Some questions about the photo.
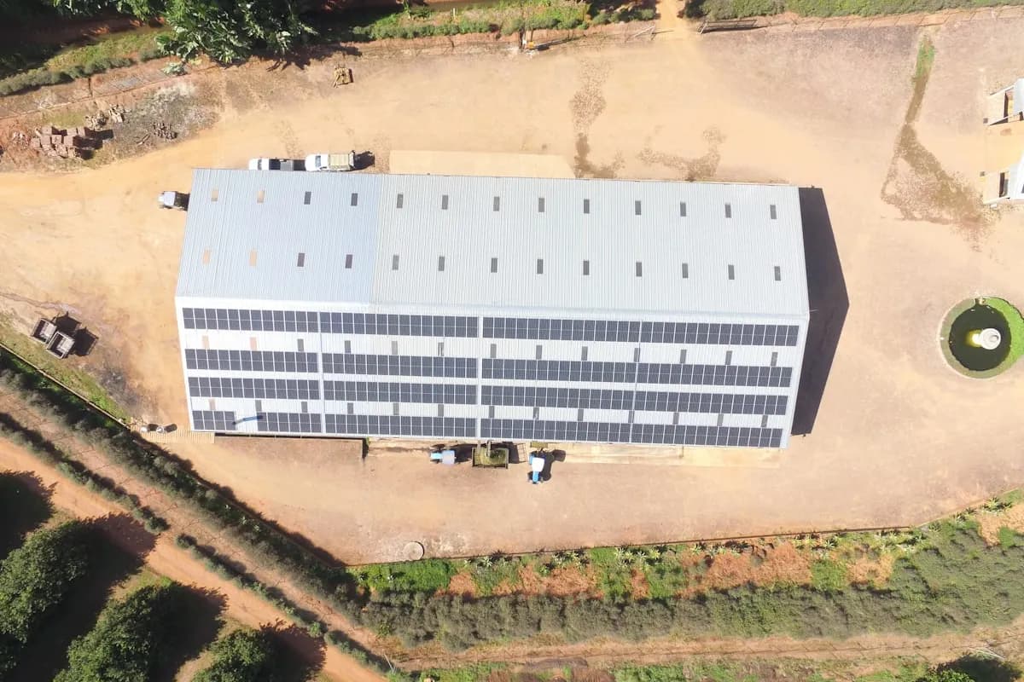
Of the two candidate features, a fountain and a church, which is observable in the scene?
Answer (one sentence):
I can see a fountain in this picture.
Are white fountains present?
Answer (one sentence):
Yes, a white fountain appears in the view.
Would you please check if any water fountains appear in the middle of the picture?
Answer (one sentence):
No, I see no water fountain in the middle of the picture.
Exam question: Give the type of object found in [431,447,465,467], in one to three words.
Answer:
work vehicle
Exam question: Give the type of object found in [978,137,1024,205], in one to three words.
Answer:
shed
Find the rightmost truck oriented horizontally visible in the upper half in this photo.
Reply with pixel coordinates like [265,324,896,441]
[305,147,358,172]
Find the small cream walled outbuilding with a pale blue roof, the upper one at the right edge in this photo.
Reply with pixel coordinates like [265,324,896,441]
[984,78,1024,127]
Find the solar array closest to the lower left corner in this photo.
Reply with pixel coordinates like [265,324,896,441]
[190,410,236,430]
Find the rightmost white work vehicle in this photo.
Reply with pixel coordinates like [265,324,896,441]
[529,442,547,481]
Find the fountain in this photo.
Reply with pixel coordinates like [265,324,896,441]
[967,325,1002,349]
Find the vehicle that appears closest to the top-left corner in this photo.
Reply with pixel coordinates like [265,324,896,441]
[152,187,189,208]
